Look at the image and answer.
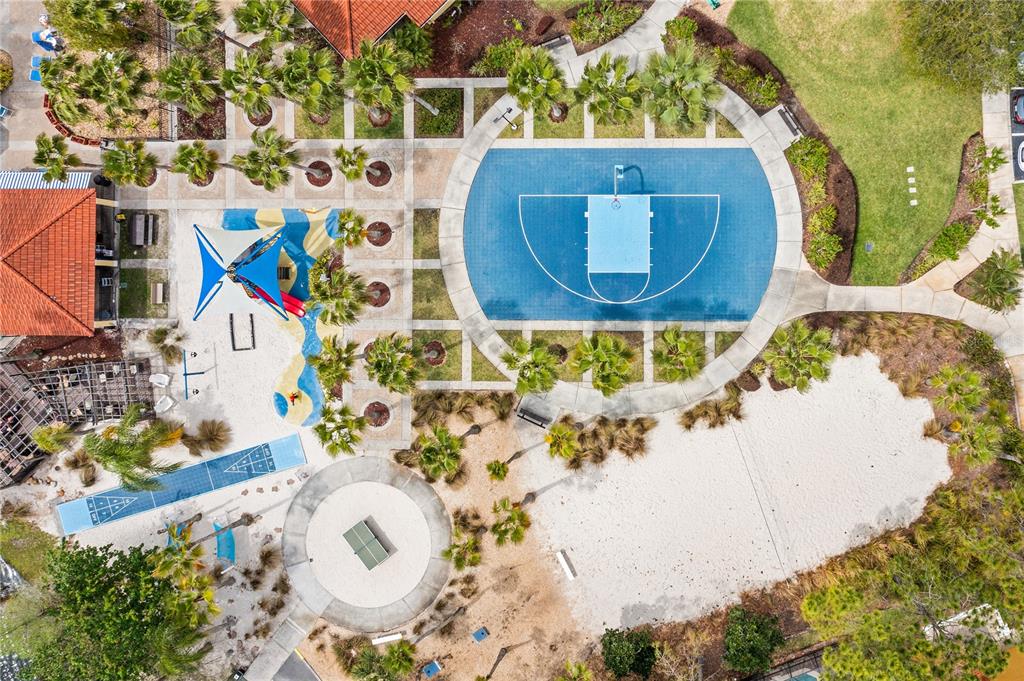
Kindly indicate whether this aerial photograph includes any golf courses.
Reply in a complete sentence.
No, the frame has no golf course in it.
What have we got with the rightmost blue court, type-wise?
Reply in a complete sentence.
The rightmost blue court in the image is a basketball court.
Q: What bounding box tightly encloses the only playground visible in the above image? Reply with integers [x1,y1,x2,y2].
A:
[222,208,344,426]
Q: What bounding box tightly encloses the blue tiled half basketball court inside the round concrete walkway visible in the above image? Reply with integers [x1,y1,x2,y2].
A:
[463,149,778,321]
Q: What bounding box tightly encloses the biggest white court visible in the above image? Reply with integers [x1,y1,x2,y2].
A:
[528,350,953,635]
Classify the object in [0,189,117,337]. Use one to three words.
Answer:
building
